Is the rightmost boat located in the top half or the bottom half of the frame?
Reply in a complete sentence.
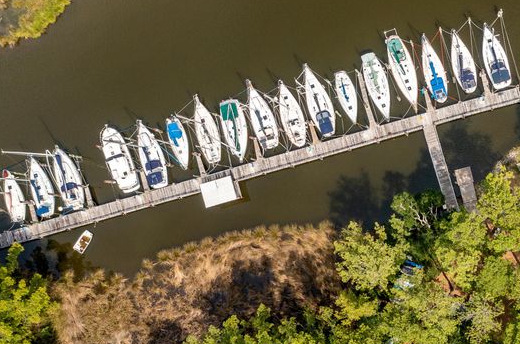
You can find the rightmost boat in the top half.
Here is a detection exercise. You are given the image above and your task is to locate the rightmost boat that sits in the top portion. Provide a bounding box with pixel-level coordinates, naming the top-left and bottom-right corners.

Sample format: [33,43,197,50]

[468,13,519,96]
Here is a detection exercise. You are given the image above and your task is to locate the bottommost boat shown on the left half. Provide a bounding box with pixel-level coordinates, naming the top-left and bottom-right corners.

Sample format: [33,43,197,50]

[72,228,94,255]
